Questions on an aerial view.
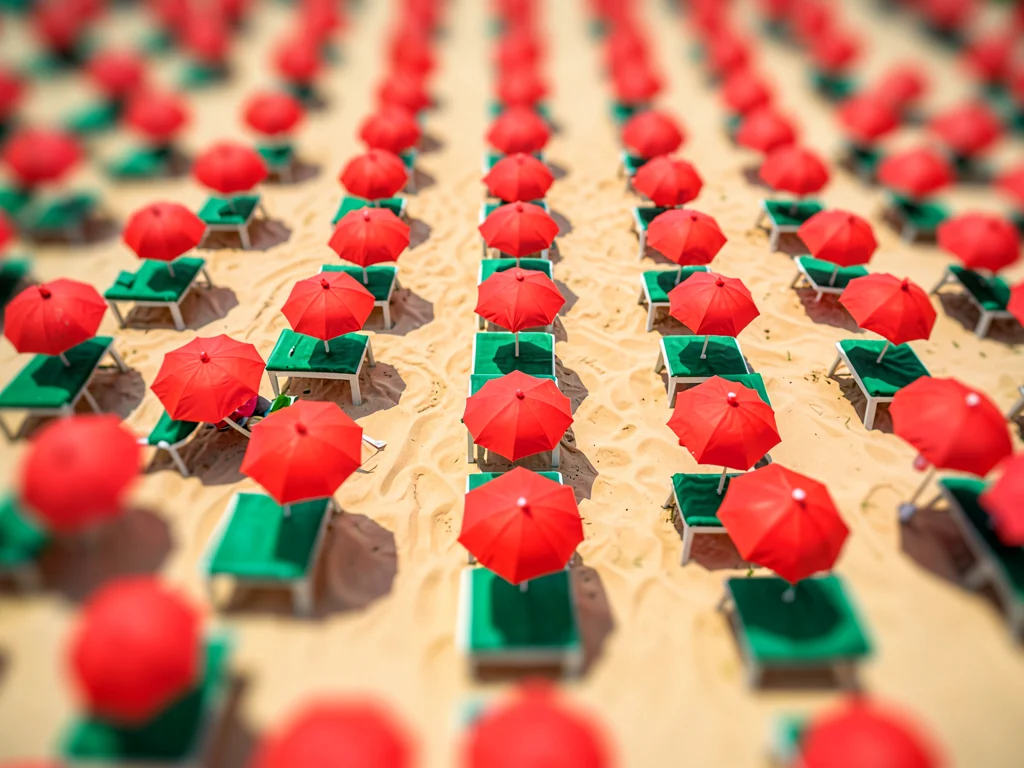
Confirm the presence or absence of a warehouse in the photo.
No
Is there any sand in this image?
Yes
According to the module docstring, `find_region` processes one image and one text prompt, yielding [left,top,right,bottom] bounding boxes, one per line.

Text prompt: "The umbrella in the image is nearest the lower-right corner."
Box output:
[790,688,943,768]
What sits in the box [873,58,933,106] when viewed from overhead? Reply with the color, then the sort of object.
red umbrella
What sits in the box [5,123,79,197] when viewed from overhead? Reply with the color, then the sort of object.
red umbrella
